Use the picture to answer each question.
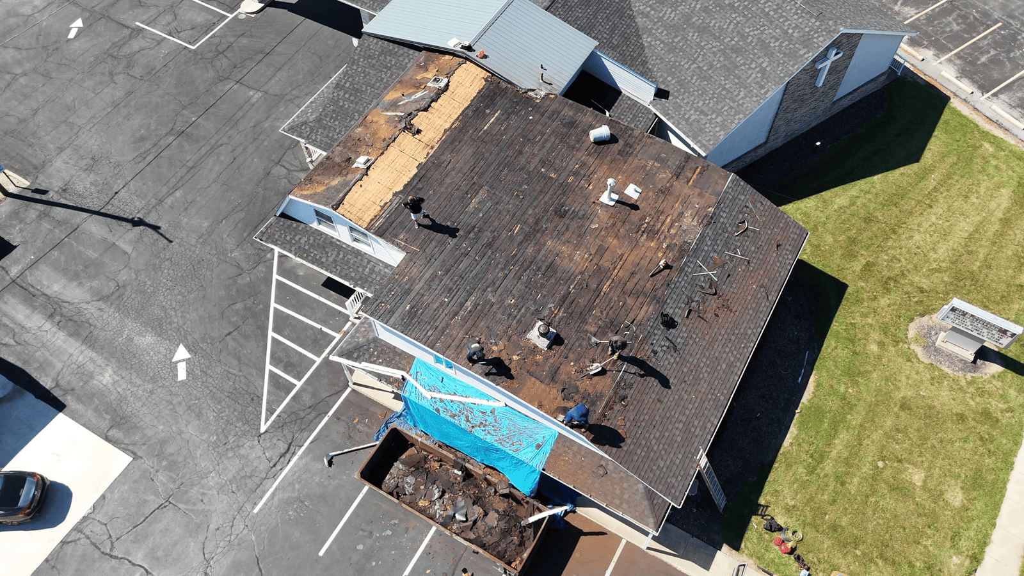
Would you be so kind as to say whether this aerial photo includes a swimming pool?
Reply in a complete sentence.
No, I can't see a single swimming pool in this photo.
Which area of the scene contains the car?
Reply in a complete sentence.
The car is in the bottom left part of the image.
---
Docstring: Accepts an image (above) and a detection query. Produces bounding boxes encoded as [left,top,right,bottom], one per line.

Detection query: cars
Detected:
[0,465,54,530]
